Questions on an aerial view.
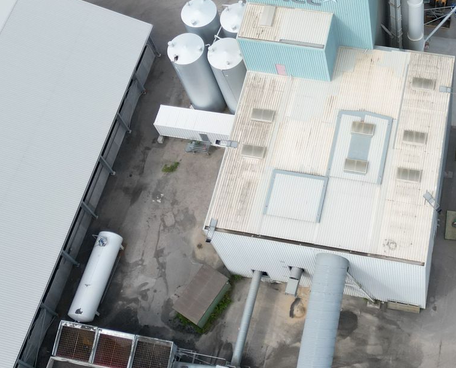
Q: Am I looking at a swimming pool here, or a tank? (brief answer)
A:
tank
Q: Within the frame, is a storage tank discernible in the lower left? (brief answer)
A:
Yes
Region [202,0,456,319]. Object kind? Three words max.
building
